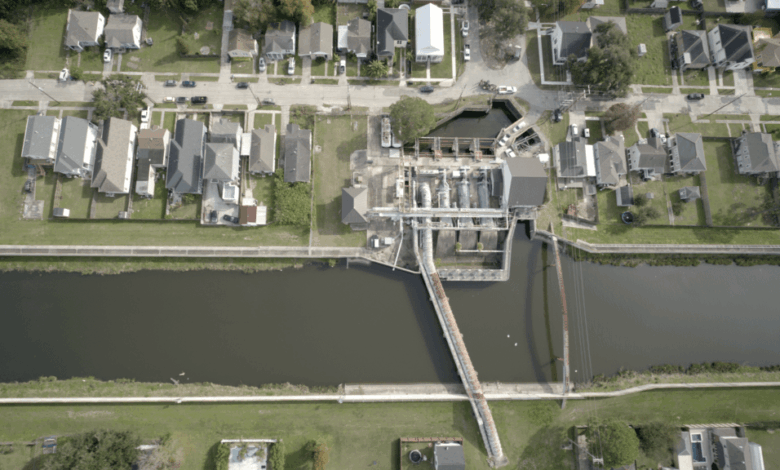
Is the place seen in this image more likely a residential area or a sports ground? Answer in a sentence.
This looks like a residential area.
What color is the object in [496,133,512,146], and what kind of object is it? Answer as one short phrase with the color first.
white vehicle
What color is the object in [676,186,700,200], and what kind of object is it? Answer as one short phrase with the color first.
gray gazebo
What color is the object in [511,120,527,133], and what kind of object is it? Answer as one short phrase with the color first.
white vehicle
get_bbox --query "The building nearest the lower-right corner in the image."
[715,434,763,470]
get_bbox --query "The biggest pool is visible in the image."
[692,442,708,464]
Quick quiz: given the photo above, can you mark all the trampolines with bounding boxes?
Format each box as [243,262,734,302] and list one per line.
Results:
[409,451,422,465]
[622,211,635,223]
